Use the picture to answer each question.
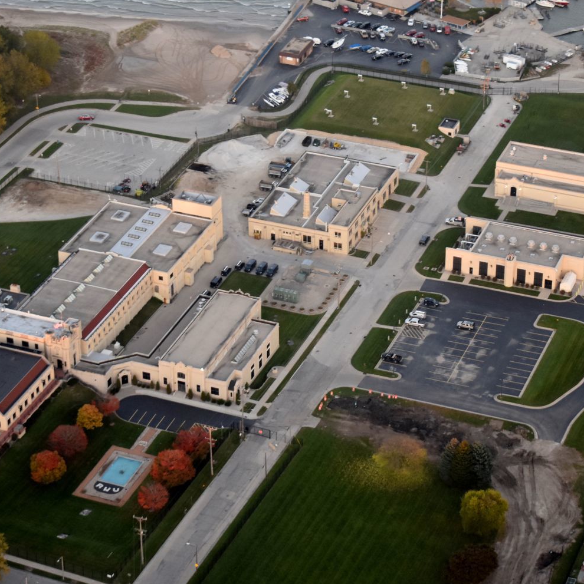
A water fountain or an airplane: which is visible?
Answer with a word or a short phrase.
water fountain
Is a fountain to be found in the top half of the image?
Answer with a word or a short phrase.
No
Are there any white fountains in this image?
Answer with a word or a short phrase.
No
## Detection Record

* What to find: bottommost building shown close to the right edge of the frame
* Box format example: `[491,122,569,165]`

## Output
[445,217,584,291]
